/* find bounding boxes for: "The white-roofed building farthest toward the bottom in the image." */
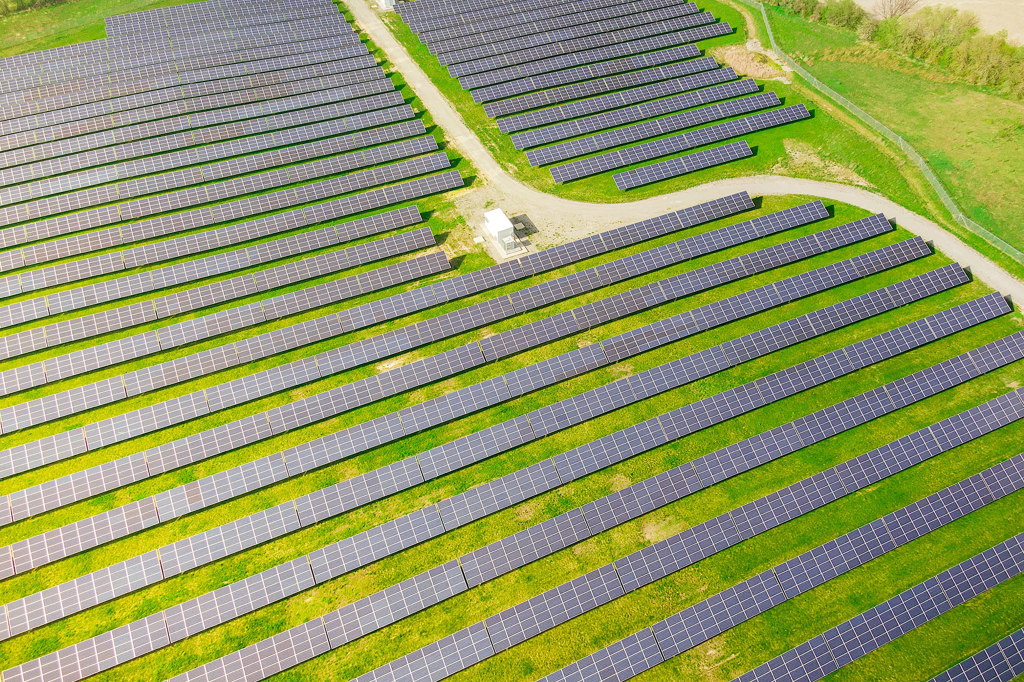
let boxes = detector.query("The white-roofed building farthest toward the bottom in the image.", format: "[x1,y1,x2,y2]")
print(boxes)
[486,209,516,242]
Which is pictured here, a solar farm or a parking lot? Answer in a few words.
solar farm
